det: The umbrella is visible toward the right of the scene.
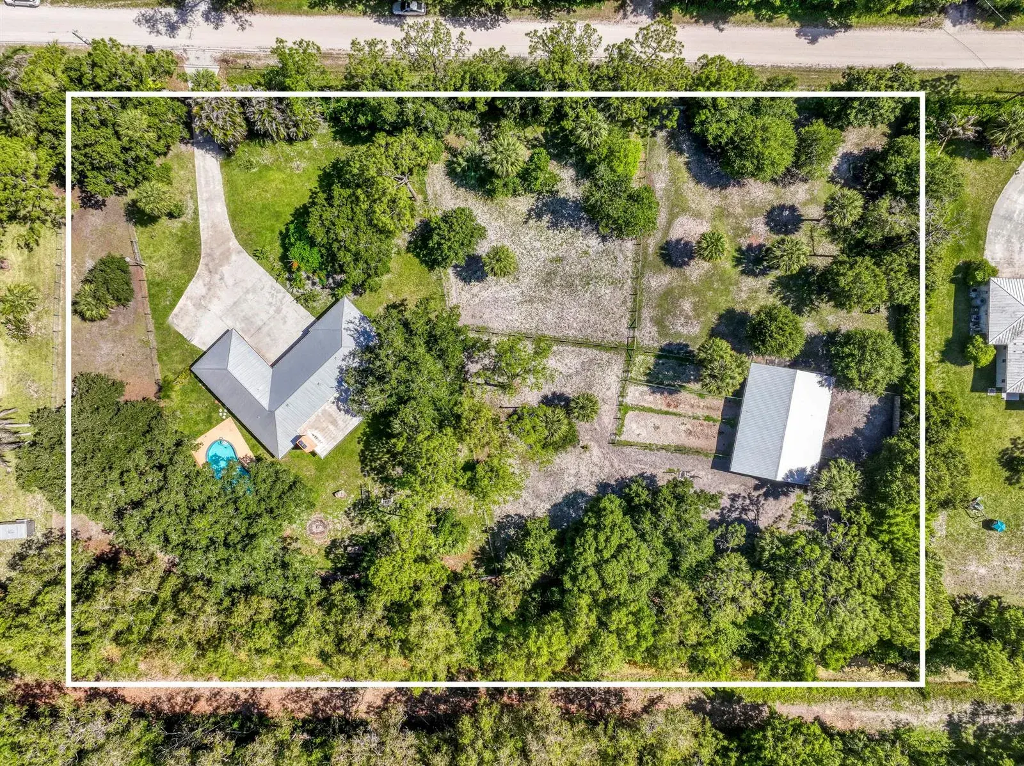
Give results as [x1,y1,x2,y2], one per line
[990,521,1008,534]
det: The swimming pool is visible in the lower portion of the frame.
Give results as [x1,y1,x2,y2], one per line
[190,417,277,524]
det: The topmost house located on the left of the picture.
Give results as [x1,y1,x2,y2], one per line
[190,296,388,459]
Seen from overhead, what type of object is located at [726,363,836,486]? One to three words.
barn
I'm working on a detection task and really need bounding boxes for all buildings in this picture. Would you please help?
[969,277,1024,399]
[726,363,836,486]
[190,296,388,459]
[0,517,40,538]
